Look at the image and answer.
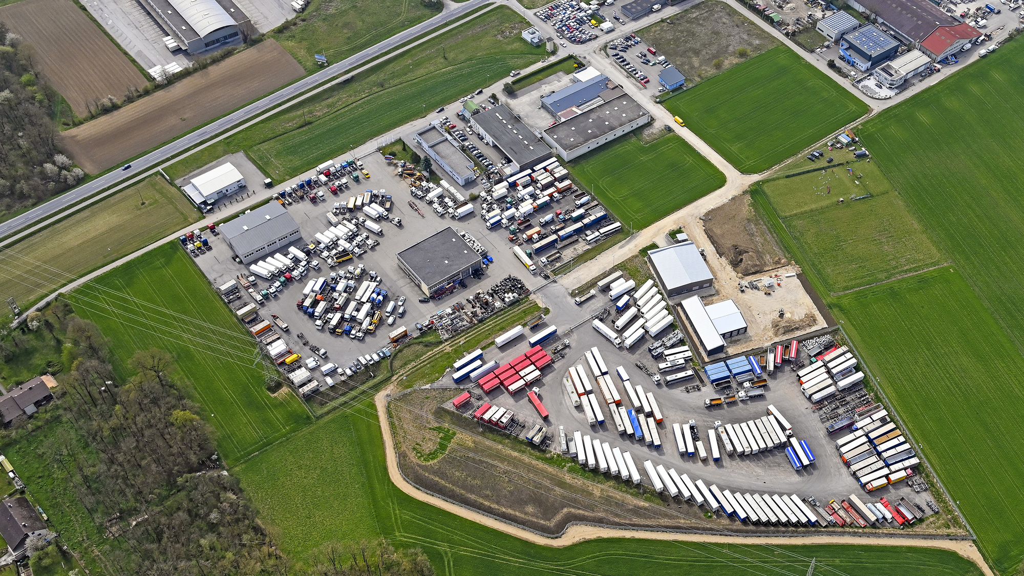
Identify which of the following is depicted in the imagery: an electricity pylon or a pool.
electricity pylon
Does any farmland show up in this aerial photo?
Yes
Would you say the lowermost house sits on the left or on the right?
left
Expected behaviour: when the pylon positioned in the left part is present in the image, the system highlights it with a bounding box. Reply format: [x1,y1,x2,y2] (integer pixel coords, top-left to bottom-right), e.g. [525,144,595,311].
[254,338,281,391]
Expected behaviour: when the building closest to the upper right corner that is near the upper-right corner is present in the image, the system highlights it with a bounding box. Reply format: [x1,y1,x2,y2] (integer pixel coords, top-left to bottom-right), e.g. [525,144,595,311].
[921,23,981,66]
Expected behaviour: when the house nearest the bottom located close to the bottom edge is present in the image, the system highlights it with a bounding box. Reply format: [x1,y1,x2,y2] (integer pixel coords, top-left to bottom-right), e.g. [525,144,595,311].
[0,492,50,555]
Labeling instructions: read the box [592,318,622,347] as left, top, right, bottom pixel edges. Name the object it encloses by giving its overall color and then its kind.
white truck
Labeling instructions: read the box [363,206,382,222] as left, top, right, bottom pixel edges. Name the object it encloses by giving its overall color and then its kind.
white vehicle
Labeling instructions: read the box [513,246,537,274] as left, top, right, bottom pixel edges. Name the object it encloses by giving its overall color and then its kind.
white truck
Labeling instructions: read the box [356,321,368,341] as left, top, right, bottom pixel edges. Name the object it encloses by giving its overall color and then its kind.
white vehicle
